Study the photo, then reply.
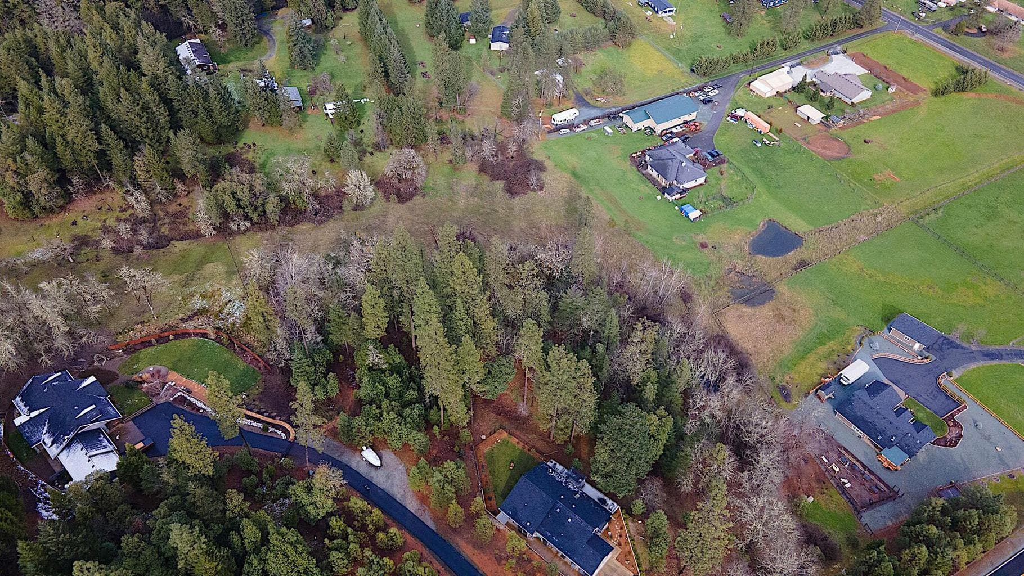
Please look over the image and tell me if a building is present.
Yes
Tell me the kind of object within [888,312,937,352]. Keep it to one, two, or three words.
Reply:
building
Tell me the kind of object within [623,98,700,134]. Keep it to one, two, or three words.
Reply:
barn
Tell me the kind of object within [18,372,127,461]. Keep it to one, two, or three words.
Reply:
house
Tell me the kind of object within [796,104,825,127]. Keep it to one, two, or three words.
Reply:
shed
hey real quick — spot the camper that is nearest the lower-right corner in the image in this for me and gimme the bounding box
[839,355,877,384]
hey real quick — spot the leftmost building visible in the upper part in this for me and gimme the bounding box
[176,37,220,83]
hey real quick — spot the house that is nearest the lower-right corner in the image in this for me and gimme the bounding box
[833,376,934,459]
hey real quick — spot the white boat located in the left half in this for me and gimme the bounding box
[358,444,378,463]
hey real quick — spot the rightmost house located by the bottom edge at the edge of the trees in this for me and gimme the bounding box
[499,458,621,575]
